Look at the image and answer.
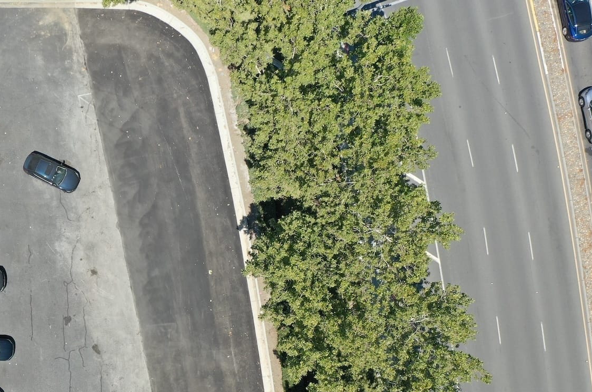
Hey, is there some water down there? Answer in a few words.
No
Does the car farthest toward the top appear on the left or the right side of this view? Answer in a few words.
right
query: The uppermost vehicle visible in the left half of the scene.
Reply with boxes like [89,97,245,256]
[21,151,81,191]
